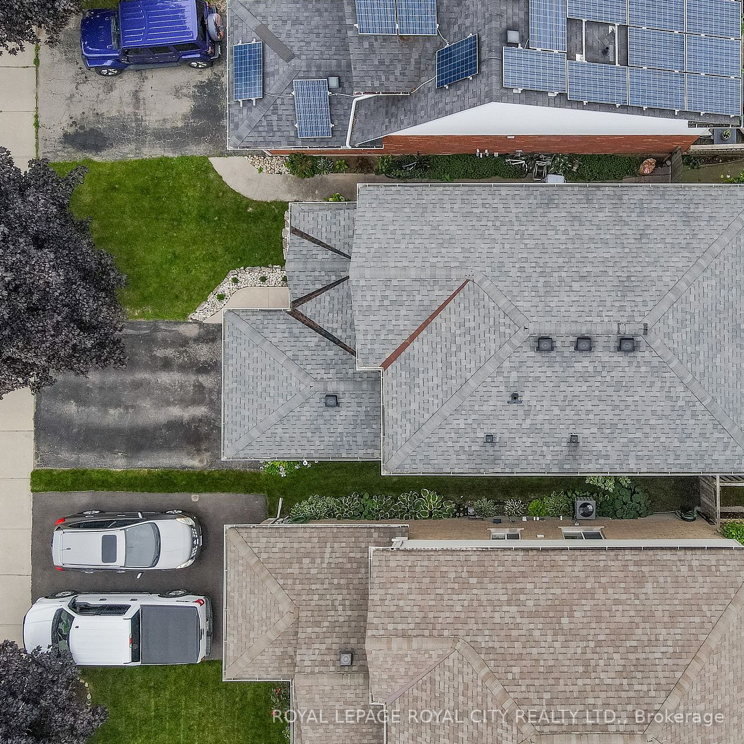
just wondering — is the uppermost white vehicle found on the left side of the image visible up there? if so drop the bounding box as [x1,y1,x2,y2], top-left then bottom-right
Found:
[47,508,204,581]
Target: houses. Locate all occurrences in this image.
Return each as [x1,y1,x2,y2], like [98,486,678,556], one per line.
[227,0,743,158]
[222,184,744,476]
[223,519,744,744]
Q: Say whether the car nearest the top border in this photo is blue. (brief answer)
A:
Yes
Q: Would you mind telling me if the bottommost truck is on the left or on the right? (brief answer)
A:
left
